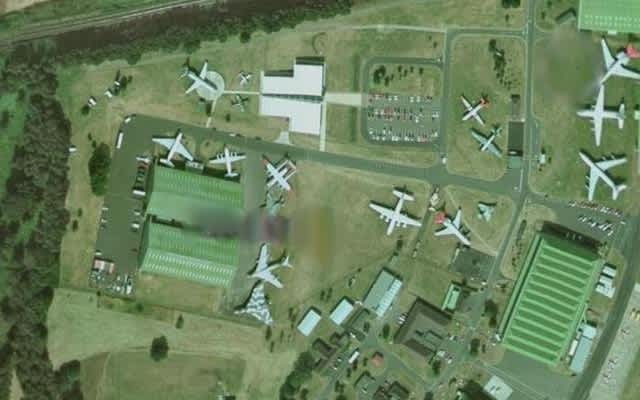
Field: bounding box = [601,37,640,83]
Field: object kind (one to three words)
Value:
airplane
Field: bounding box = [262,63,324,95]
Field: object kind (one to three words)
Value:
building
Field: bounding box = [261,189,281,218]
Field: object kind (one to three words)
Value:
airplane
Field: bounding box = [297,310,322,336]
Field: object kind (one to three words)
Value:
shed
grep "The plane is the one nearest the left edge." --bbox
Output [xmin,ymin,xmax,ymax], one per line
[151,132,195,165]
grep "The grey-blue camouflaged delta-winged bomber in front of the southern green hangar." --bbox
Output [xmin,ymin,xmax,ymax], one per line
[234,279,272,320]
